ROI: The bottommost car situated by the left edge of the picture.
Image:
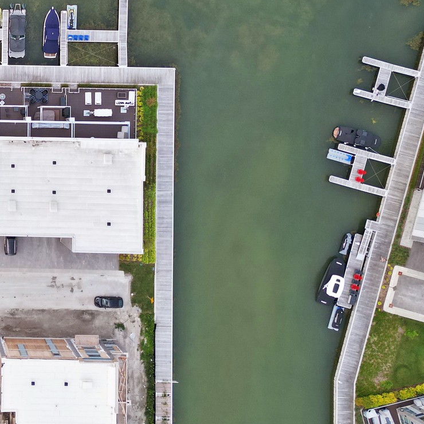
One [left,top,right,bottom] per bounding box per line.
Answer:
[3,237,18,257]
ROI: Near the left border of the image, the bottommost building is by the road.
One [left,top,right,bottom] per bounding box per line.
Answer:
[0,335,132,424]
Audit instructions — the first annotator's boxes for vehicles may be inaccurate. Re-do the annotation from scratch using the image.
[93,295,123,310]
[3,237,18,257]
